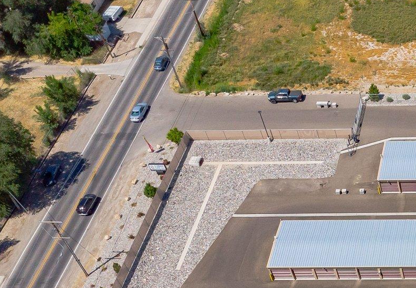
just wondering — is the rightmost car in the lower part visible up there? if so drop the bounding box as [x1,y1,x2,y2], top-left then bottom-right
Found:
[75,193,97,213]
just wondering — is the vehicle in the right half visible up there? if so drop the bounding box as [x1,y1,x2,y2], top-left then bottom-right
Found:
[267,89,301,104]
